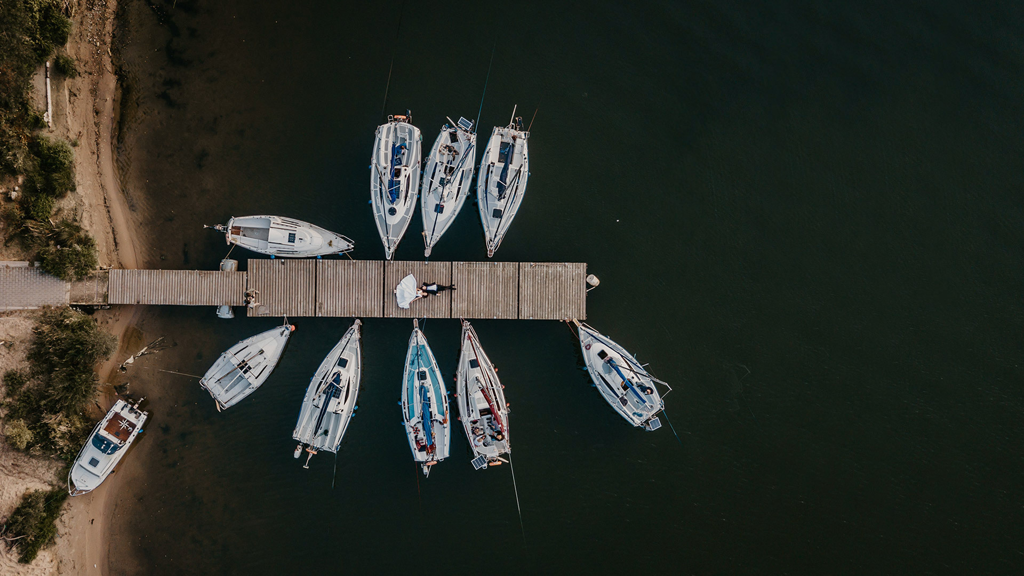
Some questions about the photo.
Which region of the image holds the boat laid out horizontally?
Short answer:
left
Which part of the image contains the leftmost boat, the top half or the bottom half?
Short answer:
bottom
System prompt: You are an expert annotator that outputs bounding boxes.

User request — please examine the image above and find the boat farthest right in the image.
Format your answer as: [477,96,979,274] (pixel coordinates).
[573,318,672,431]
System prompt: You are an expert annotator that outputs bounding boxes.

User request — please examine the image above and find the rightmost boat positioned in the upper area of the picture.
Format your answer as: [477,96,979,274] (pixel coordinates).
[474,105,532,257]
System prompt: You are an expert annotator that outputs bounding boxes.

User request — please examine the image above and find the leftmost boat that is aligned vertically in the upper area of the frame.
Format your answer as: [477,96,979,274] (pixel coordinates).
[368,109,423,259]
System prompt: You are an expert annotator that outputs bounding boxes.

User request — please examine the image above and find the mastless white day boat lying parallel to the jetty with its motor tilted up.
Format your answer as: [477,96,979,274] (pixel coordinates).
[204,215,354,259]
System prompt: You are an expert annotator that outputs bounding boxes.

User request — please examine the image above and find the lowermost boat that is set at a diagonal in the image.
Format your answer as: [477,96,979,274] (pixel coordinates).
[68,396,152,496]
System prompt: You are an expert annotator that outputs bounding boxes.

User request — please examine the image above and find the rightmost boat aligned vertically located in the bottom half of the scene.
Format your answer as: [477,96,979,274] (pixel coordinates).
[453,321,512,470]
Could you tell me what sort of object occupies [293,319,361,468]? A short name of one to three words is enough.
boat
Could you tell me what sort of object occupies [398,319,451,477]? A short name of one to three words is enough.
boat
